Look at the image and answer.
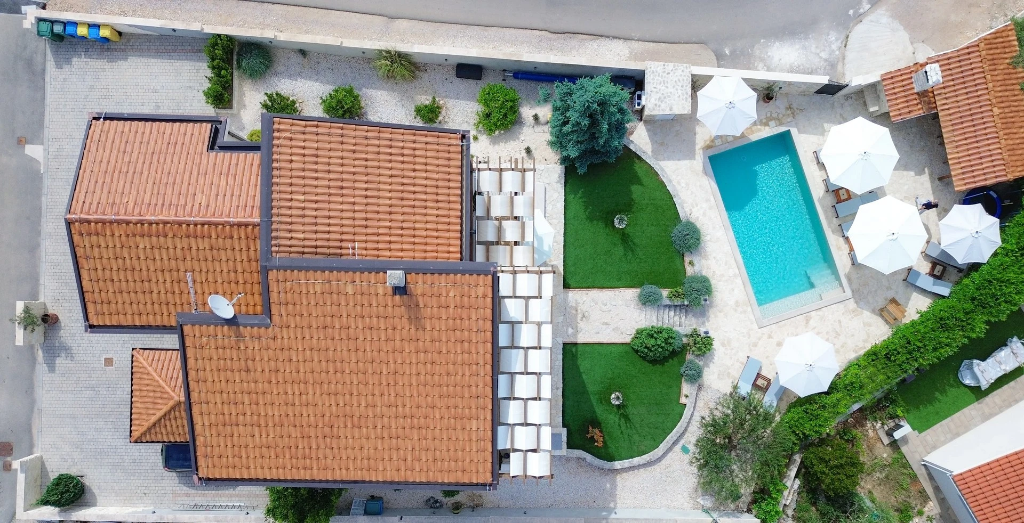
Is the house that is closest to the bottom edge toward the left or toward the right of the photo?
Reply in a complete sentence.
The house that is closest to the bottom edge appears in the right half of the scene.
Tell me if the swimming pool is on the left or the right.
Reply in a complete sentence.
The swimming pool is on the right side of the image.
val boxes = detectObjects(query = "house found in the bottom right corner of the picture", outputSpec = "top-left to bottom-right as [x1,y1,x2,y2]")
[922,404,1024,523]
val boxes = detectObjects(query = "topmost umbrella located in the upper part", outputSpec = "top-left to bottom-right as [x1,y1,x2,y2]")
[697,75,758,136]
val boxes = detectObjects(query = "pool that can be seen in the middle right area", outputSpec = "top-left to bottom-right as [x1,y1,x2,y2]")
[698,120,856,331]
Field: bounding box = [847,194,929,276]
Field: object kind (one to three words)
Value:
umbrella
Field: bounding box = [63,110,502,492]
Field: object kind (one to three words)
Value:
house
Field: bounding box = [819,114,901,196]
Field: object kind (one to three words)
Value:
umbrella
